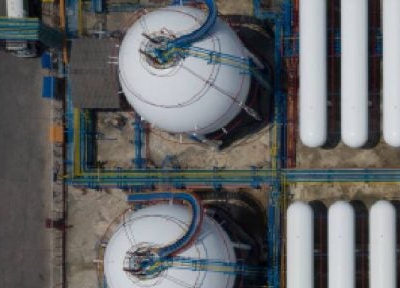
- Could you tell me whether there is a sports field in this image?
No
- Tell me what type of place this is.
industrial area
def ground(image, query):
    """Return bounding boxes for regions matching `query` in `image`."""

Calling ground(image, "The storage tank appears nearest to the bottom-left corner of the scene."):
[99,191,270,288]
